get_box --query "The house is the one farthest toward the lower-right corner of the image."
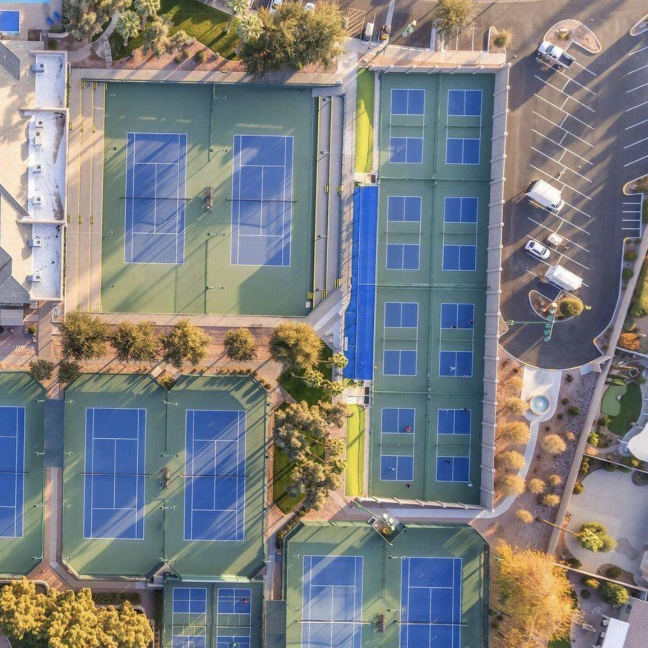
[615,597,648,648]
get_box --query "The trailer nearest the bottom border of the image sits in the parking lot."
[538,264,586,291]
